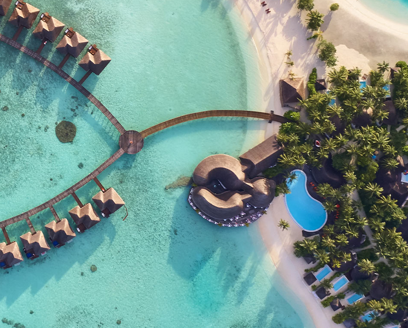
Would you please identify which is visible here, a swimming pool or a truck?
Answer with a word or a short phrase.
swimming pool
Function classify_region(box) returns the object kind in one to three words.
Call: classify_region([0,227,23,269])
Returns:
house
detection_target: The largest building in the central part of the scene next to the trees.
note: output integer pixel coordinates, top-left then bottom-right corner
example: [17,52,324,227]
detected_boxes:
[187,154,275,227]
